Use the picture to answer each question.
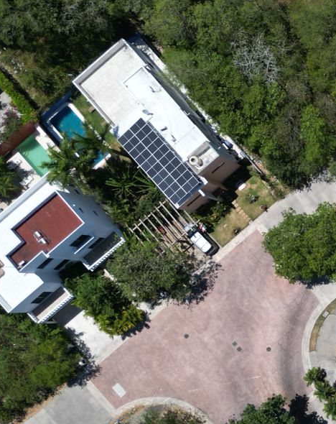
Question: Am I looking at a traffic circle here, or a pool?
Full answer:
Looking from above, you can make out a pool.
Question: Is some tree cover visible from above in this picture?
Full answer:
Yes, some tree cover is visible.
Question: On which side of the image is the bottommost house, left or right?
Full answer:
The bottommost house is on the left side of the image.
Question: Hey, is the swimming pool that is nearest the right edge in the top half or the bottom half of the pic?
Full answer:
The top half of the photo is where the swimming pool that is nearest the right edge is.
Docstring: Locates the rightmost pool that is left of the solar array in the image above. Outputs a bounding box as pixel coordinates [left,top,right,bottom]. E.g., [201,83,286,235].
[45,102,114,172]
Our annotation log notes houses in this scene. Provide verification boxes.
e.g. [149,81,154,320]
[74,39,241,213]
[0,172,125,323]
